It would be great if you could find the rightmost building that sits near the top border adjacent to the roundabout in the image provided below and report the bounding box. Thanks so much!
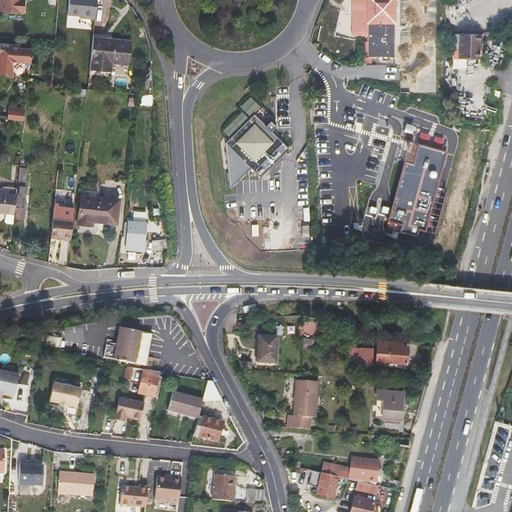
[352,0,398,64]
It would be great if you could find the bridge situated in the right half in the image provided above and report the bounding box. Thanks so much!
[433,284,512,316]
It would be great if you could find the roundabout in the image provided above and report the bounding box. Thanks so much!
[152,0,324,78]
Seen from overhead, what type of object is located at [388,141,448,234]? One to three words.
building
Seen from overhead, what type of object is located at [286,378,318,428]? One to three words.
house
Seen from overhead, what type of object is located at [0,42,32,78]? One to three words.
house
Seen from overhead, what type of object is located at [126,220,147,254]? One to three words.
building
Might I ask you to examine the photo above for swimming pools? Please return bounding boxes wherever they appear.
[0,353,11,364]
[114,77,128,87]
